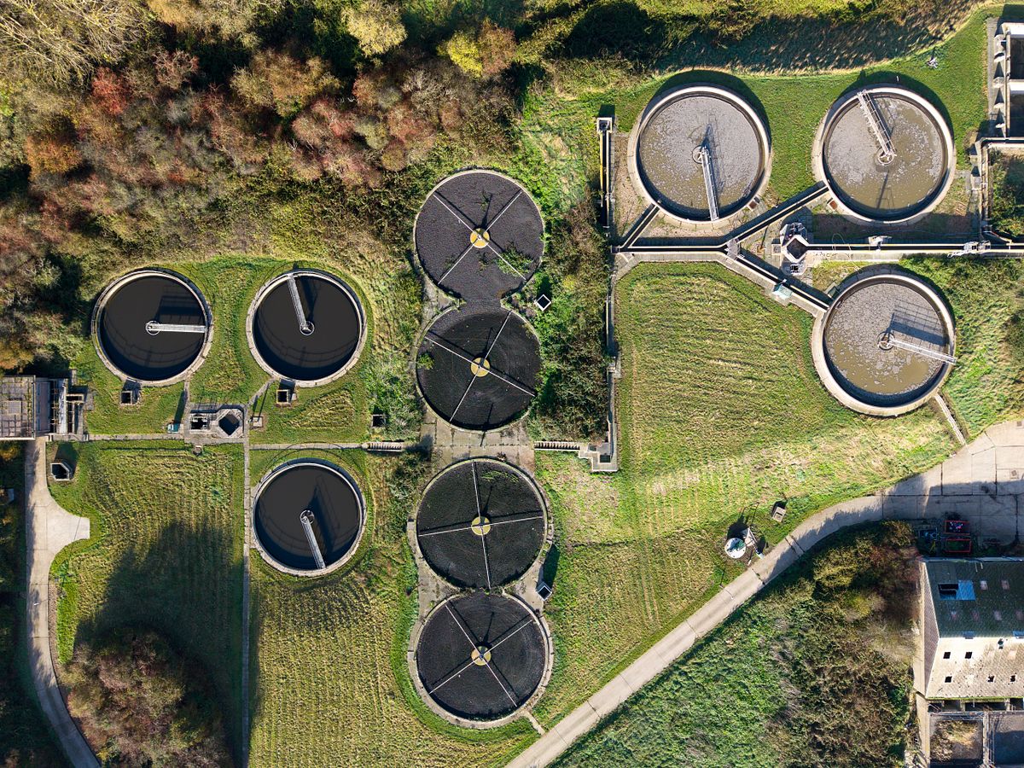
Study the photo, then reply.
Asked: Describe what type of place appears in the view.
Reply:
industrial area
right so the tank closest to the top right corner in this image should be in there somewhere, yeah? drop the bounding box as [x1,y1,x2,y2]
[811,88,956,232]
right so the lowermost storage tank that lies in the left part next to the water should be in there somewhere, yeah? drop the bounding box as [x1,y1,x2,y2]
[251,461,367,577]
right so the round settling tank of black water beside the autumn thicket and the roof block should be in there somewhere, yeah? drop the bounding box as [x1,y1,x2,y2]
[93,270,213,389]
